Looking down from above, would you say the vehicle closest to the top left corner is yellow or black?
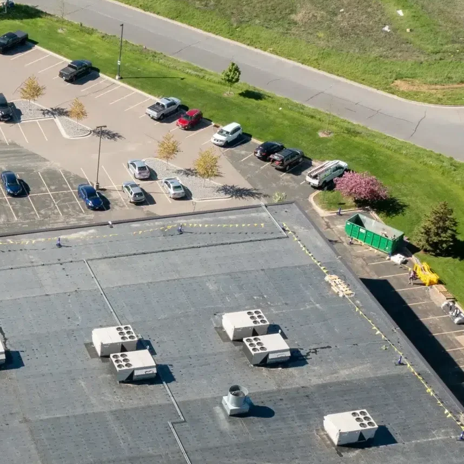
black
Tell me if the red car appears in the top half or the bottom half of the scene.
top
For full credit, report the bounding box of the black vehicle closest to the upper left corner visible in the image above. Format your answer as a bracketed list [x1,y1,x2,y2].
[0,31,28,51]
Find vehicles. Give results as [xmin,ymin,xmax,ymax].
[58,56,94,81]
[269,149,306,171]
[253,143,285,162]
[210,121,245,146]
[160,179,188,202]
[77,187,104,211]
[0,93,13,119]
[121,183,148,207]
[306,162,345,187]
[0,174,23,199]
[125,161,153,183]
[174,106,206,130]
[144,98,182,120]
[0,31,28,51]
